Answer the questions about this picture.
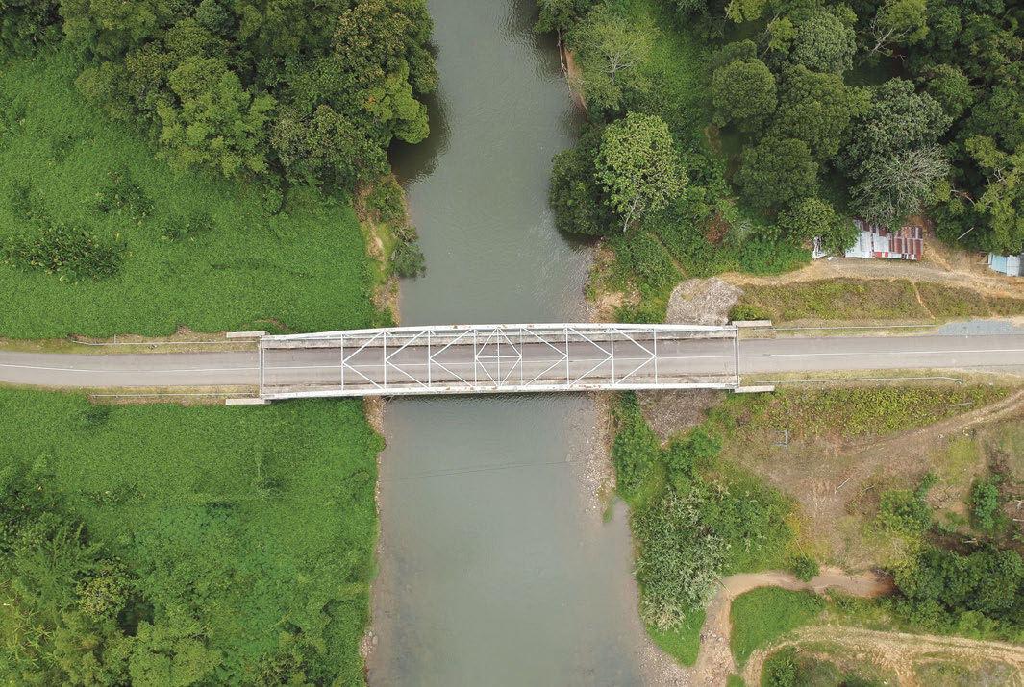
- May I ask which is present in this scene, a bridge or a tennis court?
bridge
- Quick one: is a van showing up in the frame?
No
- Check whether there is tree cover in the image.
Yes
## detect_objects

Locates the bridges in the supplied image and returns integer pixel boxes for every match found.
[224,321,775,403]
